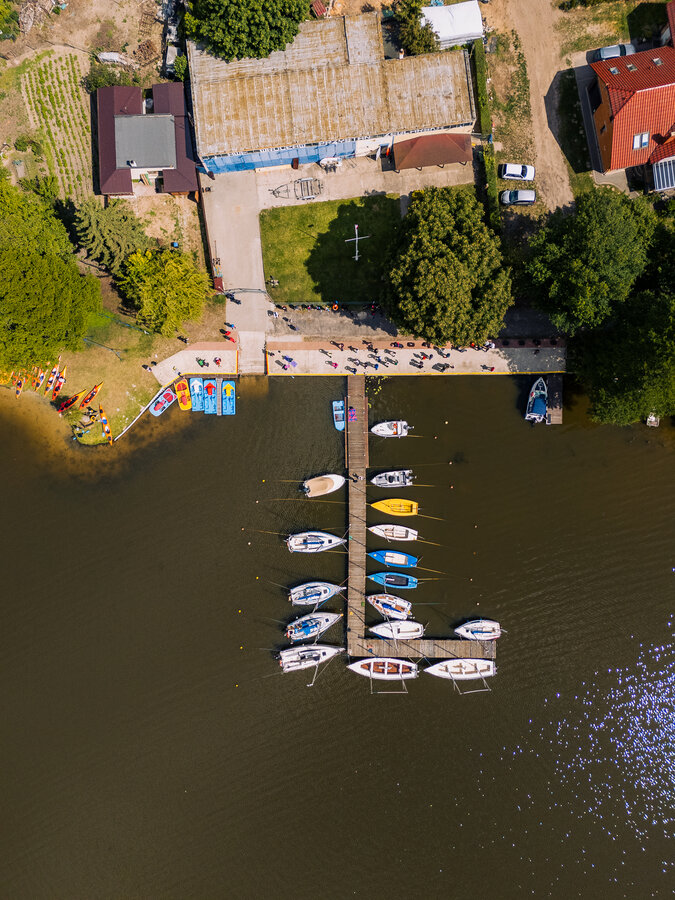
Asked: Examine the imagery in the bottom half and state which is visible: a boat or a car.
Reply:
boat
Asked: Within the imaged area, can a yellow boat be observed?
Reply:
Yes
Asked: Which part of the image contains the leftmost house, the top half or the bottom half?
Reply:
top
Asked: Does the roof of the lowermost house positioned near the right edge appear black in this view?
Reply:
No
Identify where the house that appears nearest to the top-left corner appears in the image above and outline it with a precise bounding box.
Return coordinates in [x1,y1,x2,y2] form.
[97,82,199,200]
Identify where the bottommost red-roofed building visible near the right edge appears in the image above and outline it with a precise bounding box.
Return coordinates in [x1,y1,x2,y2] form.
[585,46,675,196]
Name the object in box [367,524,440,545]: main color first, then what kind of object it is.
white boat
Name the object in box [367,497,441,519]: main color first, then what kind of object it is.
yellow boat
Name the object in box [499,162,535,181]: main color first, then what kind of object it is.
white car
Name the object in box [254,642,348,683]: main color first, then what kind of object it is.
white boat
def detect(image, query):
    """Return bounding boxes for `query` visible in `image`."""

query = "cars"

[499,162,535,181]
[596,40,635,61]
[499,187,536,207]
